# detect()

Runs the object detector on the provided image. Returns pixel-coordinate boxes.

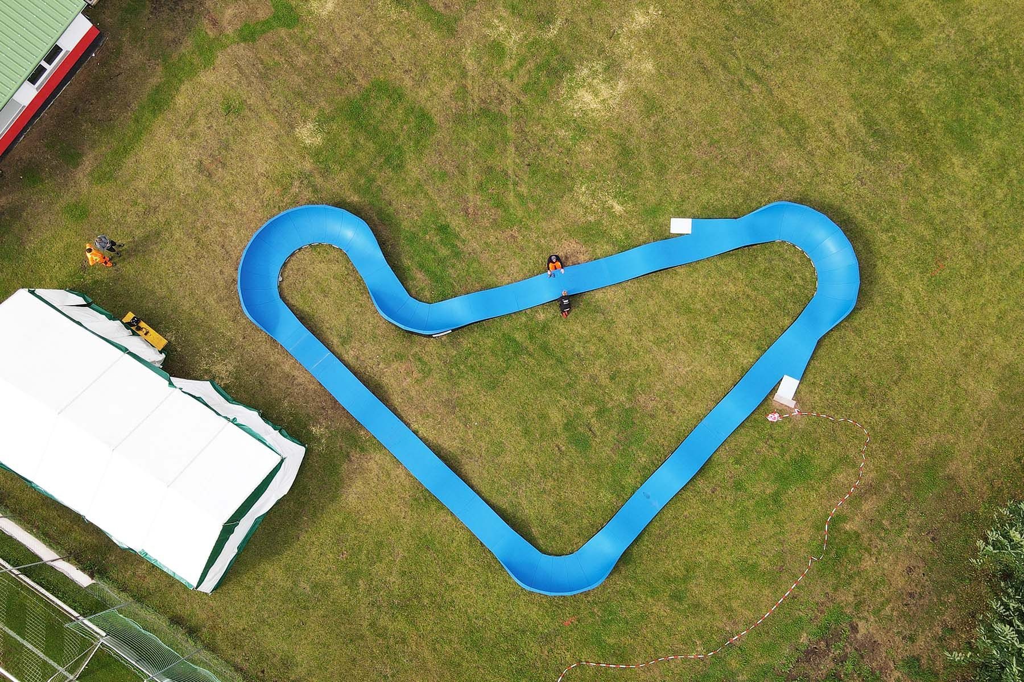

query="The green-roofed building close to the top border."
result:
[0,0,100,154]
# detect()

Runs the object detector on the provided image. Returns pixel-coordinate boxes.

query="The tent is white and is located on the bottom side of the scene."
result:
[0,287,307,595]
